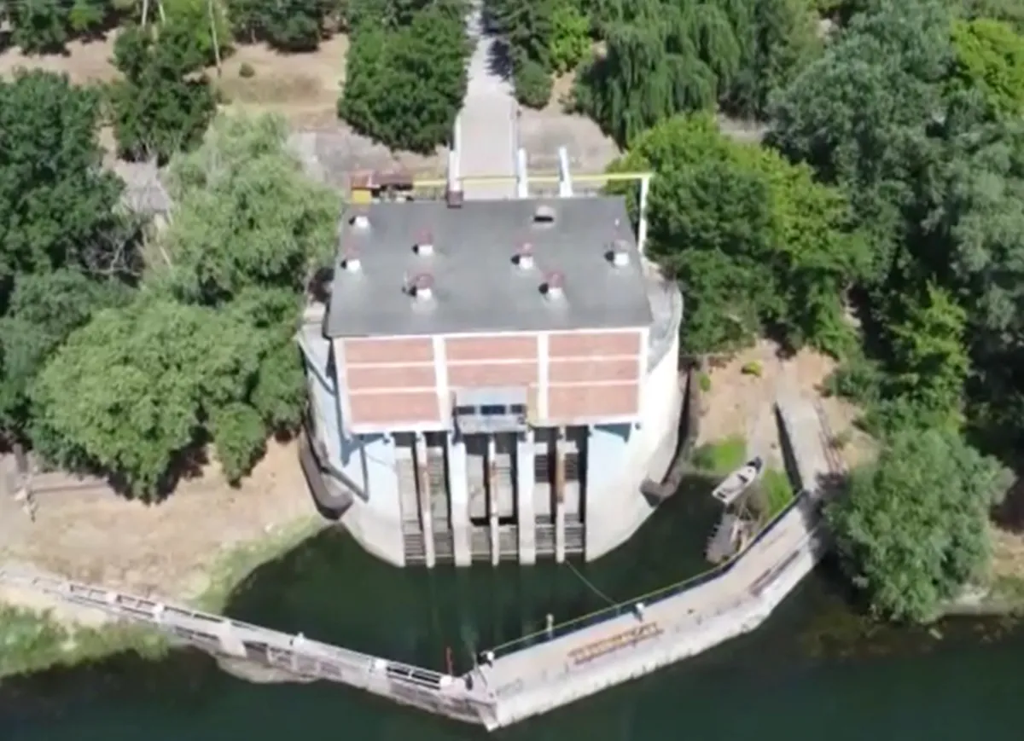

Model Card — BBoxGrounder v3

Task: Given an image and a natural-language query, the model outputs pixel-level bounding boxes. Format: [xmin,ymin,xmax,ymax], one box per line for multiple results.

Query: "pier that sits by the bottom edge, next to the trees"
[477,489,873,732]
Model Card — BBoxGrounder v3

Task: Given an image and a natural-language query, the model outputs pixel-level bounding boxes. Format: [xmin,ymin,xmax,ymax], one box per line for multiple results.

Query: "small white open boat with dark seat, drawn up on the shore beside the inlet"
[713,460,760,508]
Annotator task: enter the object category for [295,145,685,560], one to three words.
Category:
building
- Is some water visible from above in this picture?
Yes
